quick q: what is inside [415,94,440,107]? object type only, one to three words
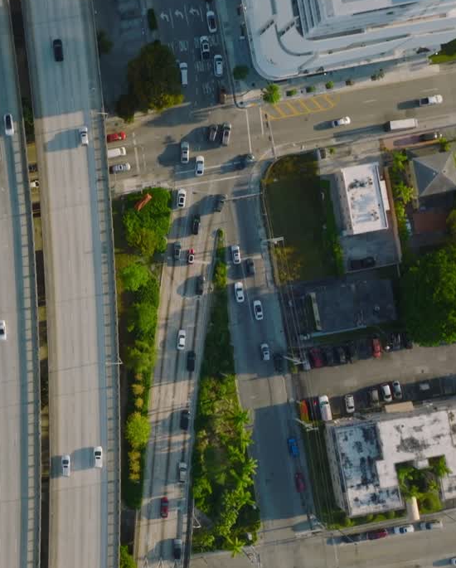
vehicle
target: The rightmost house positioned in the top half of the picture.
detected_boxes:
[405,151,456,198]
